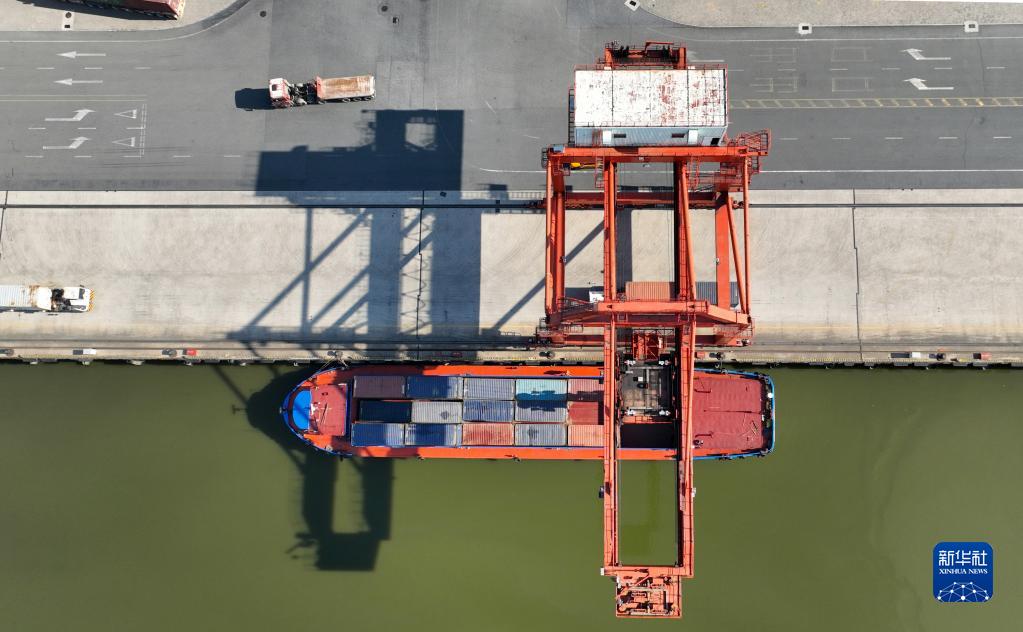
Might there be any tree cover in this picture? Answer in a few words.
No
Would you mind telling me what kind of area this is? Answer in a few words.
port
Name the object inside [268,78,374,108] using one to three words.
truck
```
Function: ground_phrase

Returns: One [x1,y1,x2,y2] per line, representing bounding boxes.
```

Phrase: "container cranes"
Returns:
[529,40,770,617]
